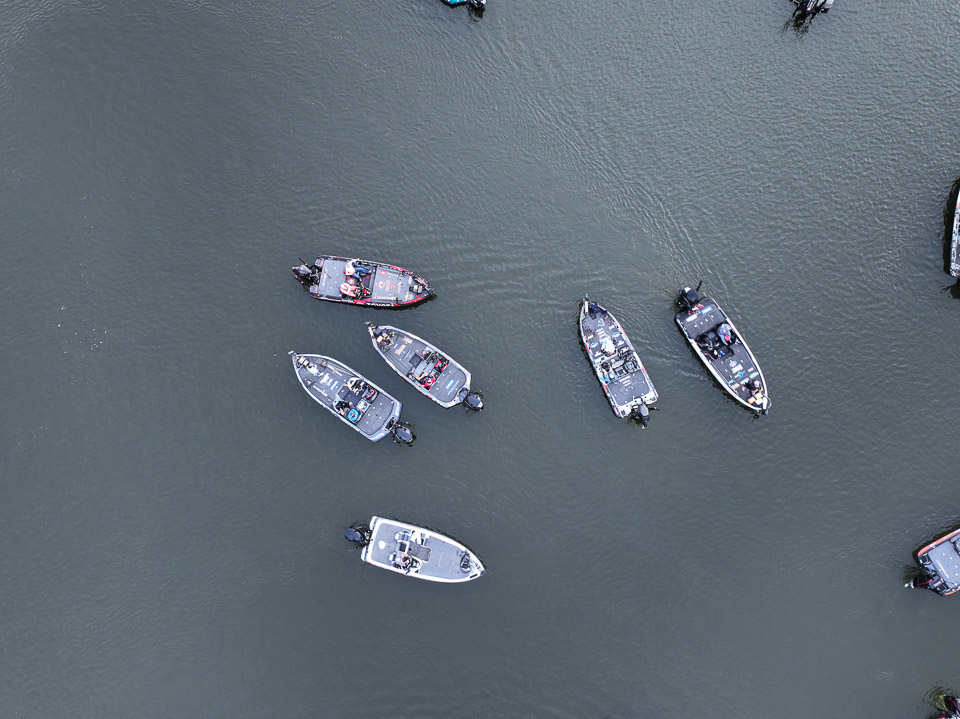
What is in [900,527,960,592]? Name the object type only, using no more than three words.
boat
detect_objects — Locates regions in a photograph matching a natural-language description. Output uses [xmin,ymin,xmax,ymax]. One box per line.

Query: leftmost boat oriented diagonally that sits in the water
[286,351,413,442]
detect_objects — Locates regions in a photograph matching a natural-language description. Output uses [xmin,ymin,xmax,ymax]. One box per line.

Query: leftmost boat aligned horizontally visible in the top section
[292,255,436,307]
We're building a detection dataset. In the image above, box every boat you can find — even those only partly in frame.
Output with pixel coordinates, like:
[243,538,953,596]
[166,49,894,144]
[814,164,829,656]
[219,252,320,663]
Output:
[937,690,960,719]
[363,321,483,409]
[449,0,486,19]
[344,514,487,581]
[579,293,661,422]
[797,0,836,19]
[292,255,436,307]
[286,351,413,442]
[946,182,960,279]
[674,279,772,417]
[900,527,960,592]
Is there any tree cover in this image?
No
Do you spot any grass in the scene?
No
